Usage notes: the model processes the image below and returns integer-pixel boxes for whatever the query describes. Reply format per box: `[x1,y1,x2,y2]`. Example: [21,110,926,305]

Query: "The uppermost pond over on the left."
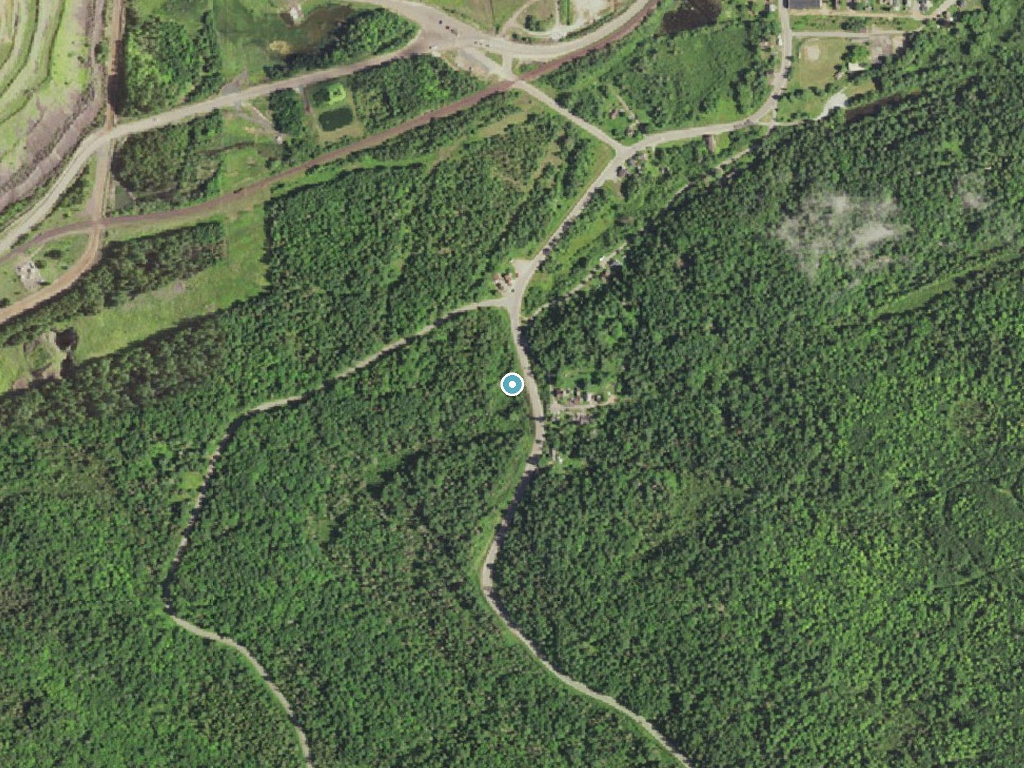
[290,5,363,56]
